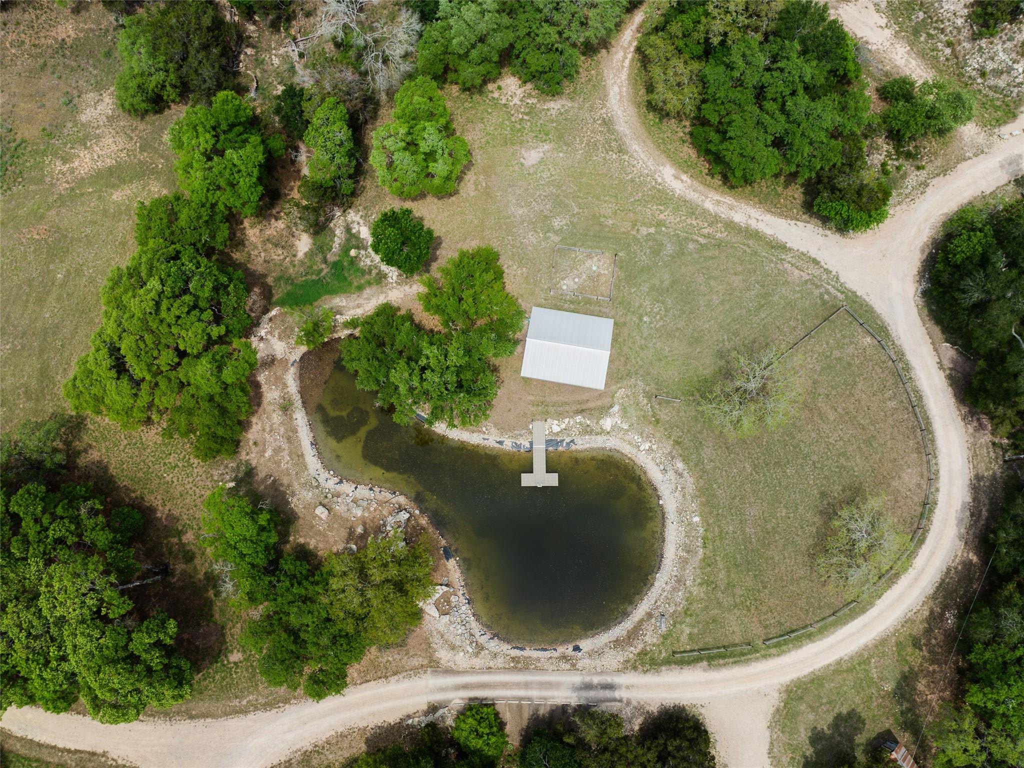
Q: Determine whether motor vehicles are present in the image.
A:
No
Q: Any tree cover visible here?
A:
Yes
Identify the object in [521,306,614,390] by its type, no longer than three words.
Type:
house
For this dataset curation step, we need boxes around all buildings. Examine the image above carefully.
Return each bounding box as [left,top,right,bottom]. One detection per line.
[878,734,919,768]
[521,306,614,390]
